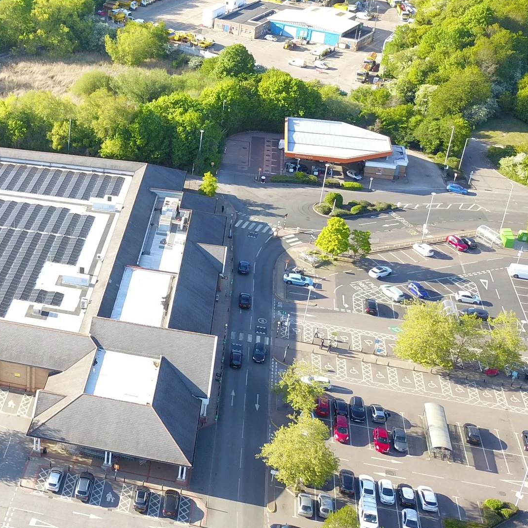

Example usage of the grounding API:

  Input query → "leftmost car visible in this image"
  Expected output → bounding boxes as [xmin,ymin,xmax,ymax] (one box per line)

[44,466,65,494]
